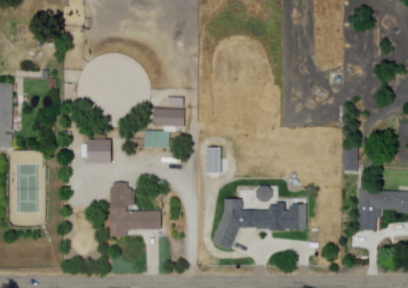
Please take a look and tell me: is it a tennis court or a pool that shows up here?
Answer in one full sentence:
The image shows a tennis court.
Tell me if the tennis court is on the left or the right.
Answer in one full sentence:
The tennis court is on the left side of the image.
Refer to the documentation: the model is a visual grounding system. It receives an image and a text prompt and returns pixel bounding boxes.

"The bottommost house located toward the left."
[109,180,160,238]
